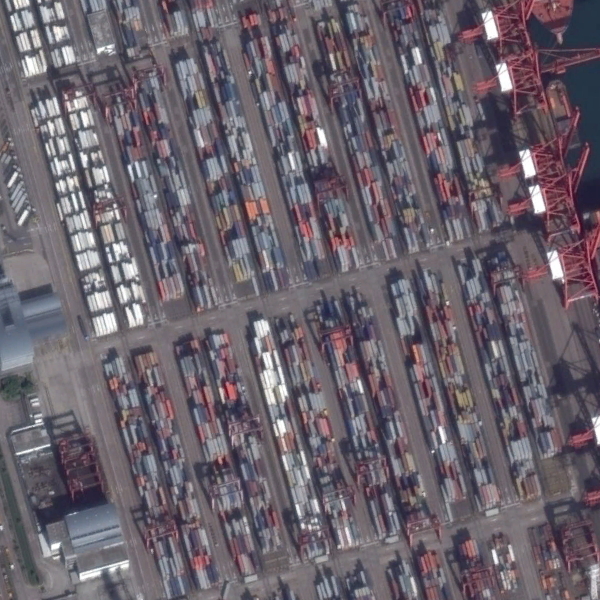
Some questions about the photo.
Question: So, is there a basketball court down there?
No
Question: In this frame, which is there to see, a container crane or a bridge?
container crane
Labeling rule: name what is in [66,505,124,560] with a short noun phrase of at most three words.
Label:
building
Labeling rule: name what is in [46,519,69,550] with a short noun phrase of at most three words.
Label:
building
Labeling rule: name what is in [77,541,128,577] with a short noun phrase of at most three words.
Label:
shed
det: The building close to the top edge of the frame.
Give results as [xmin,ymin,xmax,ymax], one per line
[87,11,116,56]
